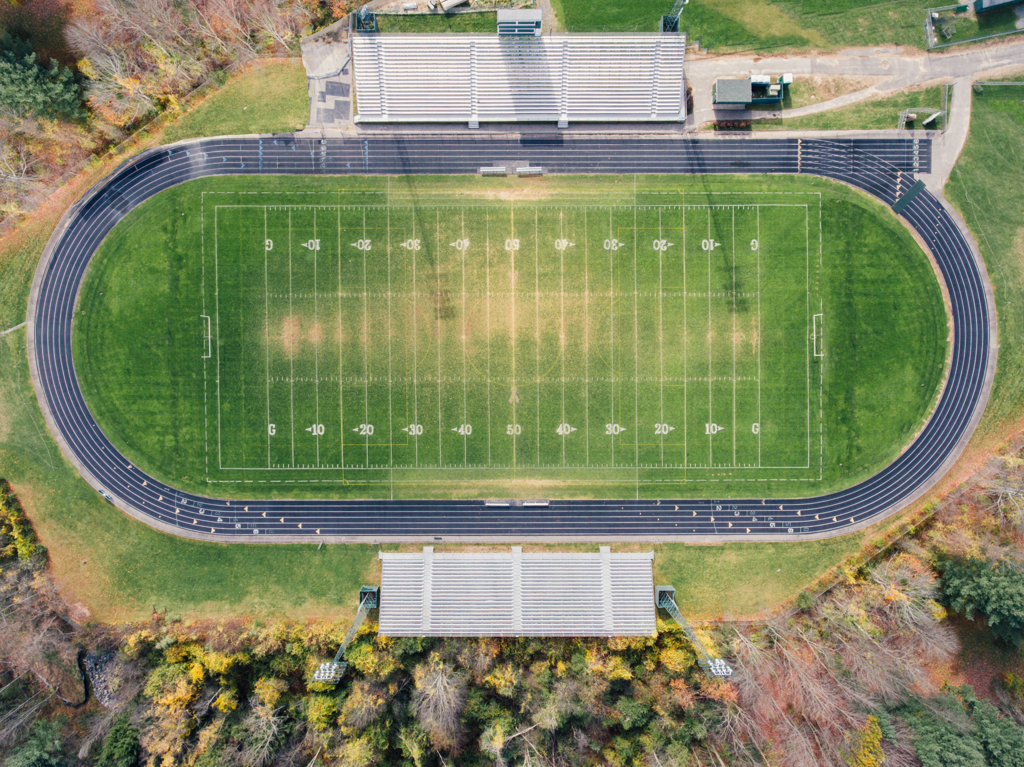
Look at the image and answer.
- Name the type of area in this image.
sports ground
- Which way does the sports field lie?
horizontally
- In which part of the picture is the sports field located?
center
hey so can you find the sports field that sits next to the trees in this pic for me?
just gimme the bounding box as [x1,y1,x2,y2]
[71,174,954,500]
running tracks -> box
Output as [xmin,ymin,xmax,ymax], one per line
[35,138,990,536]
